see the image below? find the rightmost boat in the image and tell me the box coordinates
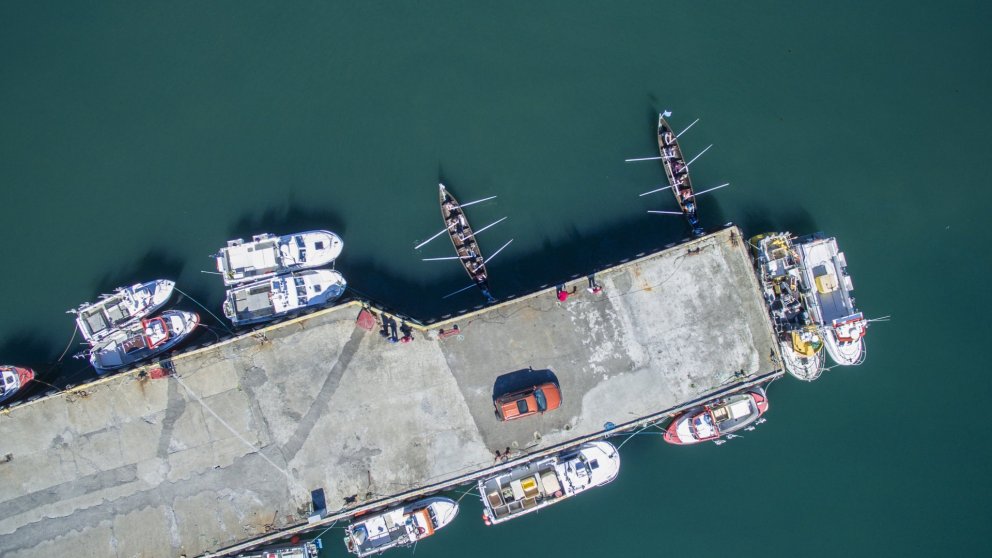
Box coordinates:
[796,227,890,368]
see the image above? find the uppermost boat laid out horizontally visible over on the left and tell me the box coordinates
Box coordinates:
[201,230,346,285]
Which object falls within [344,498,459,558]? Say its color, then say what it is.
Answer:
white boat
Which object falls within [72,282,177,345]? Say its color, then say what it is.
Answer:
white boat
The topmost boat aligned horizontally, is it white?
Yes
